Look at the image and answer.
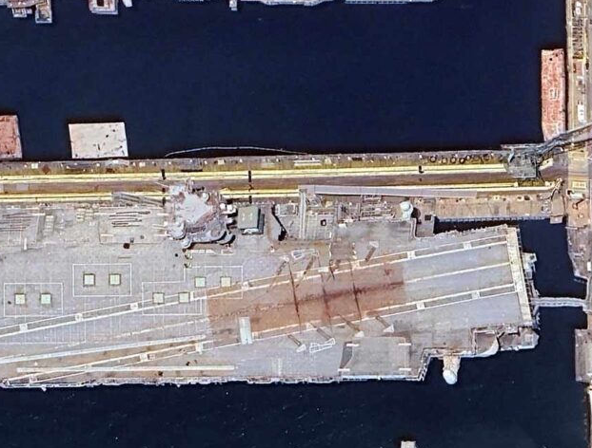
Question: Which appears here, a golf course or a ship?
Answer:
ship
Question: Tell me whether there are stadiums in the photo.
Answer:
No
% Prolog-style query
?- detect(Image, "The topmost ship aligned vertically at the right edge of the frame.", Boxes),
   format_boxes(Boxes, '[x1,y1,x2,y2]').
[540,46,567,140]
